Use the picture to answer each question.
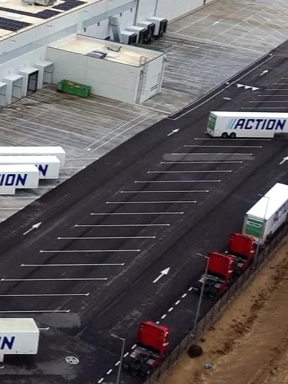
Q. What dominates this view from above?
paved ground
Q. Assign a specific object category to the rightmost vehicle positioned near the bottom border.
truck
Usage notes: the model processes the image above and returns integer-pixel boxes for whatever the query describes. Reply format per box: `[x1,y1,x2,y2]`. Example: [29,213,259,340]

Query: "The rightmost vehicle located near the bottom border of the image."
[116,327,168,382]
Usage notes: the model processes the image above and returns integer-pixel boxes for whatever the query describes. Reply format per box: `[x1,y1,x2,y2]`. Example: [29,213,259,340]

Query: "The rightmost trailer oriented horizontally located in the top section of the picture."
[207,111,288,139]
